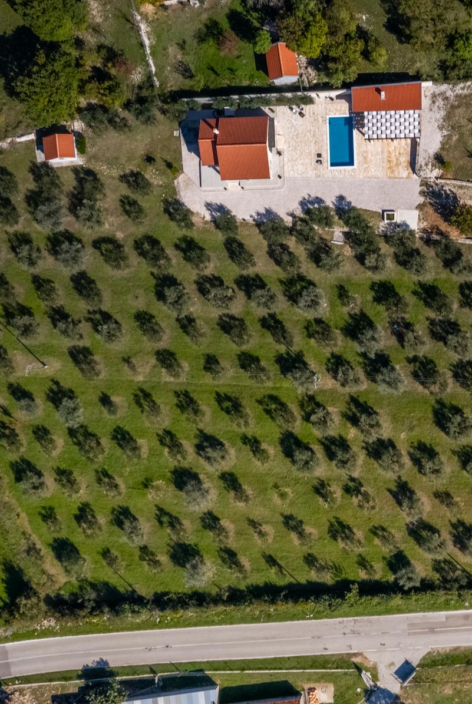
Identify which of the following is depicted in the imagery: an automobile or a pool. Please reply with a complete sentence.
The image shows a pool.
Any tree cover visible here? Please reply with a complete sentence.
Yes, some tree cover is visible.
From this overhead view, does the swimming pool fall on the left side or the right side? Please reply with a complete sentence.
The swimming pool sits on the right side.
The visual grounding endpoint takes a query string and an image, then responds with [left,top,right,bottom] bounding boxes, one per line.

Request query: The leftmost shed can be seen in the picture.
[43,134,78,160]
